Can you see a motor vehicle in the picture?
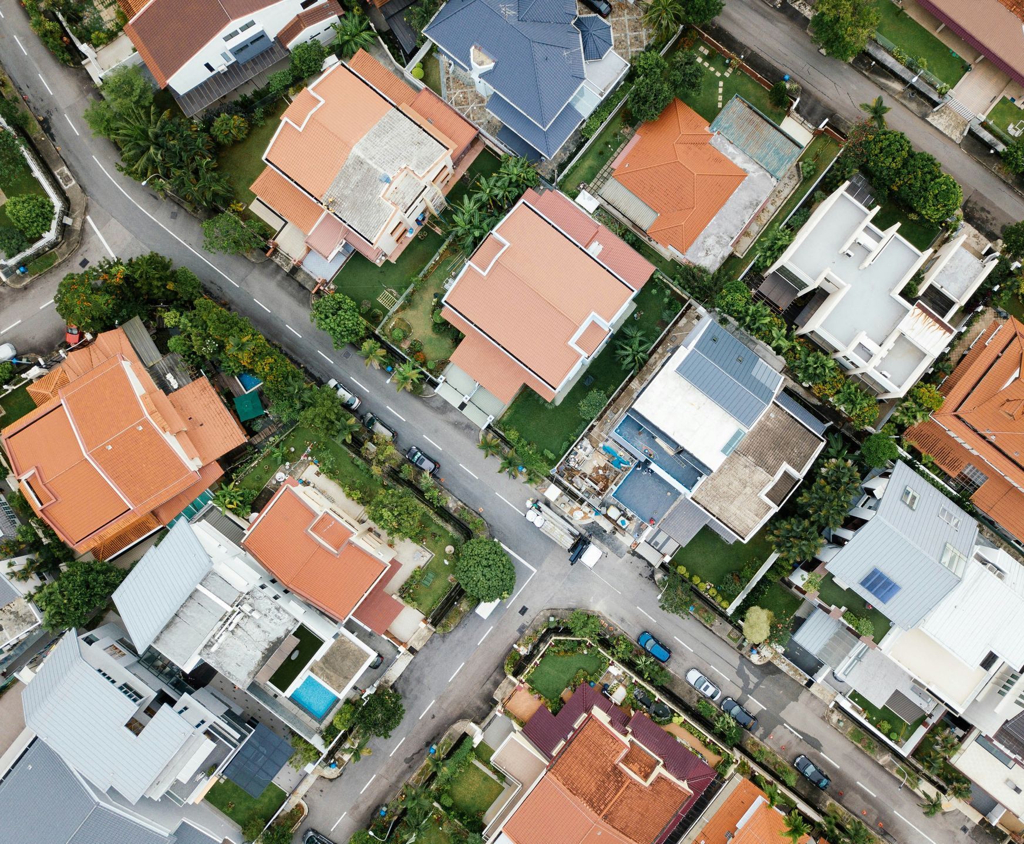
Yes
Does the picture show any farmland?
No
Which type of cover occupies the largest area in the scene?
buildings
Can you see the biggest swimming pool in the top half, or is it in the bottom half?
bottom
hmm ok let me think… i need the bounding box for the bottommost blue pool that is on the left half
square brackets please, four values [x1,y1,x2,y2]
[287,675,344,723]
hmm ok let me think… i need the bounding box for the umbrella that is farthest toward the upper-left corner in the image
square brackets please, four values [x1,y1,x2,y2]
[233,392,265,422]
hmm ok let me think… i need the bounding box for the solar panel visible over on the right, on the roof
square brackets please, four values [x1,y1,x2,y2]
[860,567,901,605]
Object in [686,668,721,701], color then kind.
white car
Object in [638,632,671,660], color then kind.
blue car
